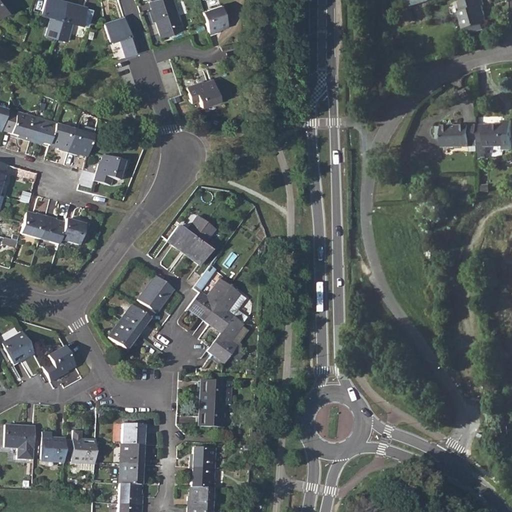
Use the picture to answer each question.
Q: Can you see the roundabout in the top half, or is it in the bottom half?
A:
bottom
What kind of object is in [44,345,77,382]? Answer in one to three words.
house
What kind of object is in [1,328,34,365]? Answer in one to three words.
house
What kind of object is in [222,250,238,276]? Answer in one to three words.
swimming pool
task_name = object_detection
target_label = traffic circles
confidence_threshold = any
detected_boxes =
[301,375,424,512]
